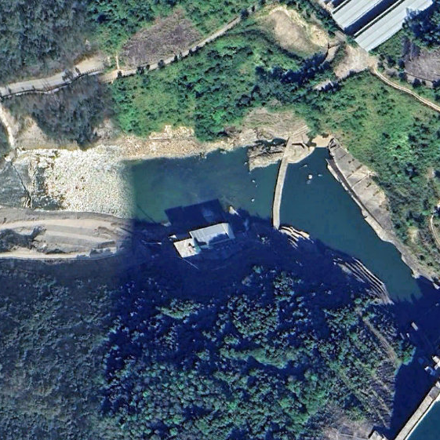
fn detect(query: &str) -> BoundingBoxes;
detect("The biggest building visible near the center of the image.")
[174,223,236,258]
